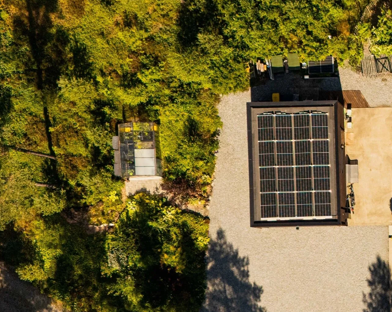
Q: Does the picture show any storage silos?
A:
No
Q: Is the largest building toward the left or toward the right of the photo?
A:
right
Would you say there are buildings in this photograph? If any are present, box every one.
[247,100,349,229]
[117,117,163,174]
